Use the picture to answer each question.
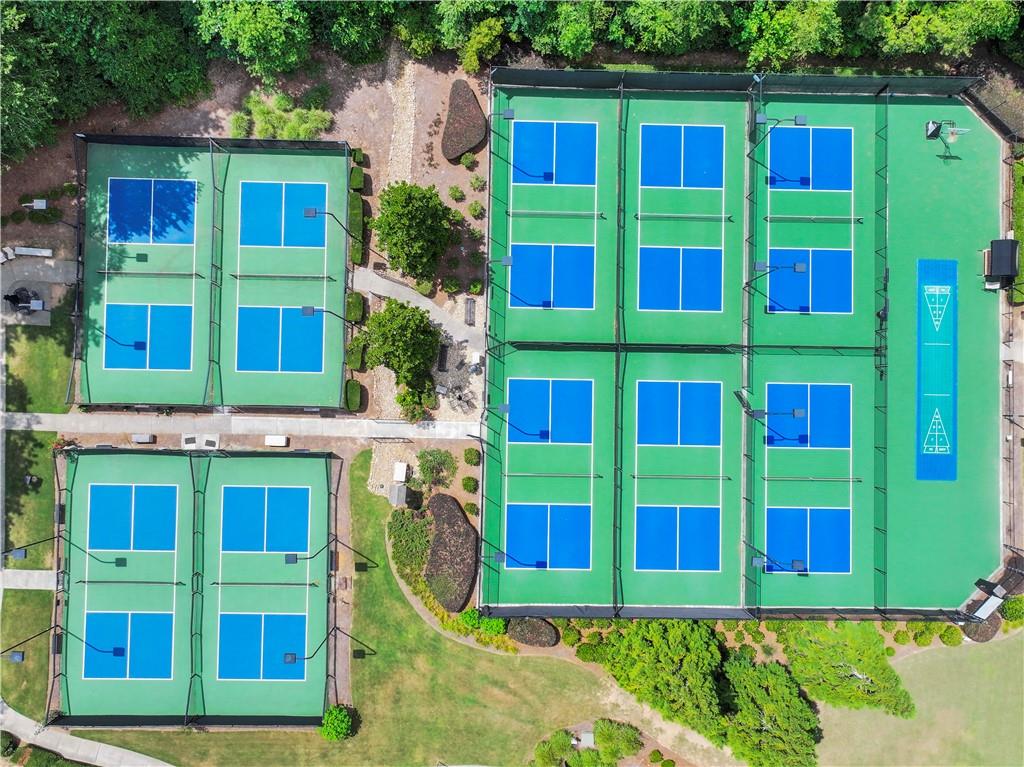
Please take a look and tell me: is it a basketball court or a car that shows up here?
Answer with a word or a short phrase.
basketball court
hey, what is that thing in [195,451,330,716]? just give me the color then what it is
green sports court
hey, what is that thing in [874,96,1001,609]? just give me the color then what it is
green basketball court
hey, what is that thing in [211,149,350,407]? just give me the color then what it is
green sports court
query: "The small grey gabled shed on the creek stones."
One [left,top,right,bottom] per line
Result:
[386,483,405,508]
